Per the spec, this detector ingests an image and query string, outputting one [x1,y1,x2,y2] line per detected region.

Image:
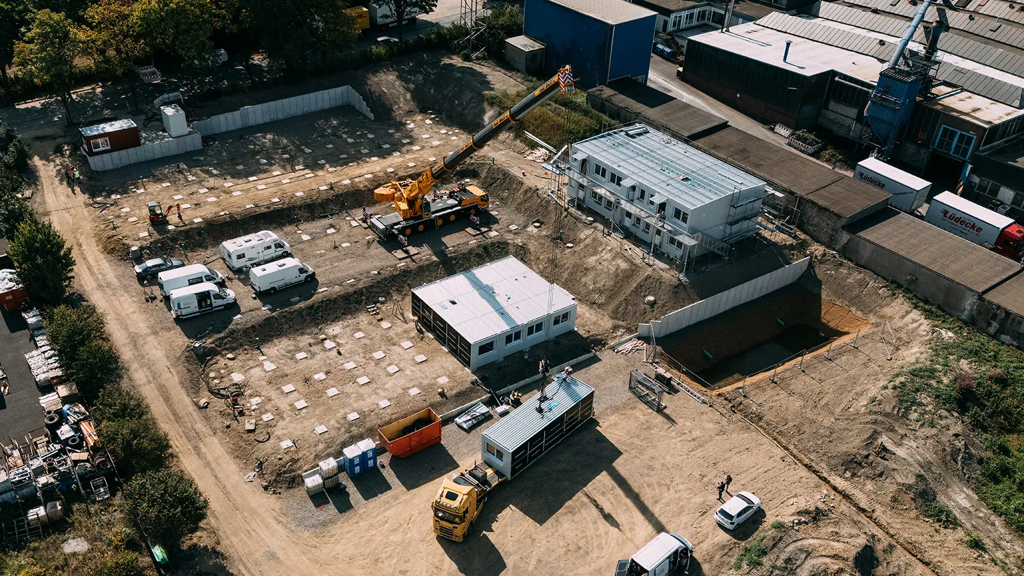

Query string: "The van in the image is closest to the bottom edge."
[614,530,692,576]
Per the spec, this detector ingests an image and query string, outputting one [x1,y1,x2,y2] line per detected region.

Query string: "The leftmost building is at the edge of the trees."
[78,119,141,157]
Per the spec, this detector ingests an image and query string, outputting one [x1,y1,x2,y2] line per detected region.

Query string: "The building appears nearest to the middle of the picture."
[408,257,577,375]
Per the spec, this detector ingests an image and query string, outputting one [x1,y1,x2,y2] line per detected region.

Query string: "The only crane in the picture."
[364,63,572,249]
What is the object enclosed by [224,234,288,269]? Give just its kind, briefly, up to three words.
camper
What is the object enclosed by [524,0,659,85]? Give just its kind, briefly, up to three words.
building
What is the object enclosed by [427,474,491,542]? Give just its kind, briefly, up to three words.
truck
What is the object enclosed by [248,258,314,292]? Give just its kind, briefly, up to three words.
van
